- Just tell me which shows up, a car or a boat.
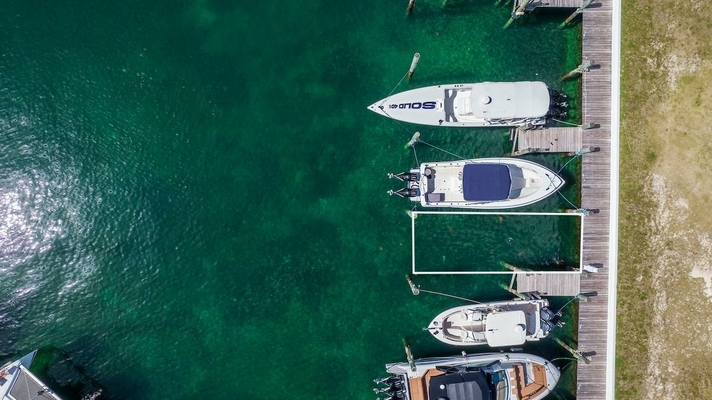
boat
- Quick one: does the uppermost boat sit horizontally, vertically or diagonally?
horizontally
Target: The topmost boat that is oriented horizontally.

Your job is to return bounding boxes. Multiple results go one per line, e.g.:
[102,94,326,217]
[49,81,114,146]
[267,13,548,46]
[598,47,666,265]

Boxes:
[368,81,565,128]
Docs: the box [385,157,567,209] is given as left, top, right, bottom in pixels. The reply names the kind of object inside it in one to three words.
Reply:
boat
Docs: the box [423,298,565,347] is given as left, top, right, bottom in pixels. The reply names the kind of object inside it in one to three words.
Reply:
boat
